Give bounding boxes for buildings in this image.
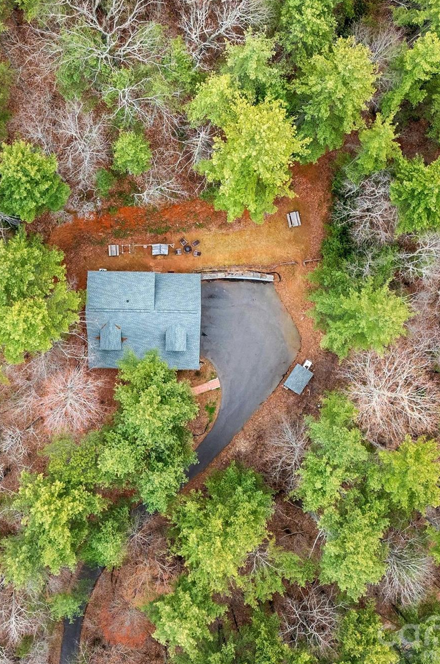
[86,271,201,371]
[283,363,313,395]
